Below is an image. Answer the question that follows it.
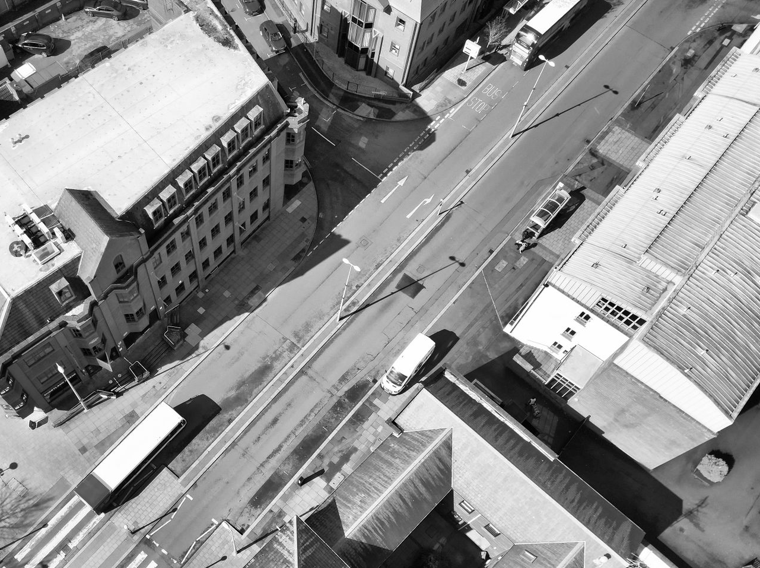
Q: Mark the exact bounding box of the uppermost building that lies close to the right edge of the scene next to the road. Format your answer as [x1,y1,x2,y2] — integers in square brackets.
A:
[510,8,760,462]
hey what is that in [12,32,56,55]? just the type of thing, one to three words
car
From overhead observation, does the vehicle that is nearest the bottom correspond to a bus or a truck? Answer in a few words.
bus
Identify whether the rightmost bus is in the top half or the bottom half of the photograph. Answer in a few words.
top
